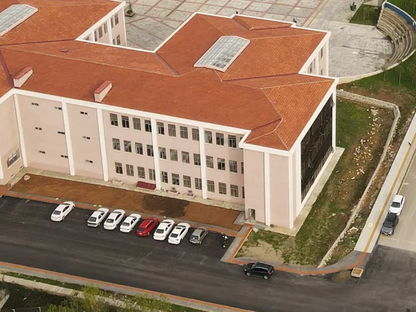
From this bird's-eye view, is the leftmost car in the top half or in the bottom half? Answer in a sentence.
The leftmost car sits in the bottom half of the picture.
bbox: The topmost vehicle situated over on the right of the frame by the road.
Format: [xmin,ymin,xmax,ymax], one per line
[389,192,406,213]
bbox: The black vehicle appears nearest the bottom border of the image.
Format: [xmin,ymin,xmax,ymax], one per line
[241,261,276,280]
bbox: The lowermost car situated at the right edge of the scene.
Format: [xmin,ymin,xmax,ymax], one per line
[381,210,399,235]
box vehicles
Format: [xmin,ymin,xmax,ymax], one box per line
[241,261,276,280]
[381,210,399,235]
[389,192,406,213]
[85,205,110,226]
[167,220,192,243]
[185,224,209,244]
[222,231,228,243]
[135,214,159,236]
[117,210,143,231]
[48,200,75,220]
[101,208,127,229]
[151,217,177,239]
